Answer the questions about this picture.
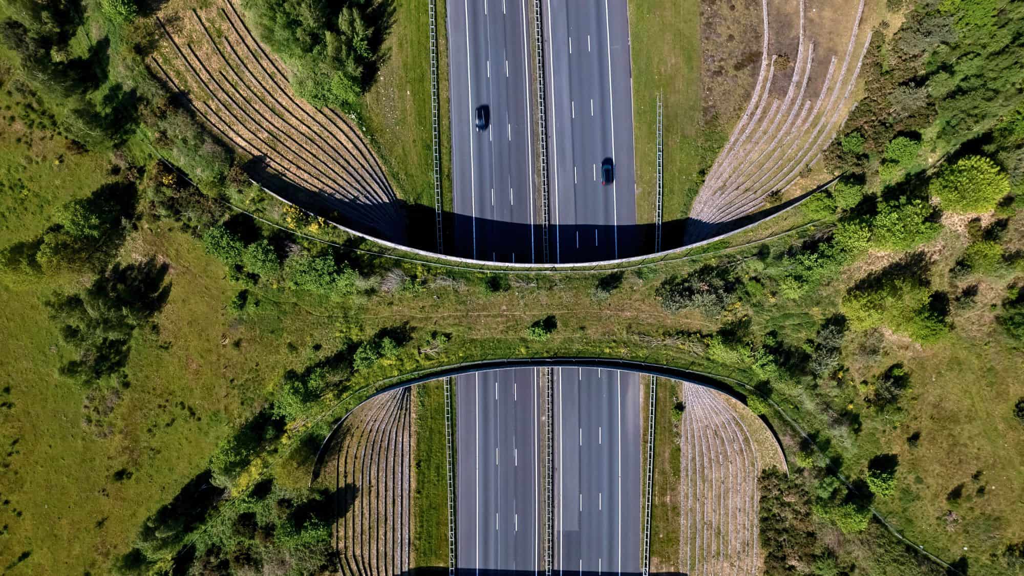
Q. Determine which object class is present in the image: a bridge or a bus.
bridge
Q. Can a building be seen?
No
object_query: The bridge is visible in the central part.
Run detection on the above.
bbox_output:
[249,173,845,487]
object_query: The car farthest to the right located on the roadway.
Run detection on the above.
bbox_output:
[600,161,613,187]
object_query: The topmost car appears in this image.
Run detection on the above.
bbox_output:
[474,105,487,132]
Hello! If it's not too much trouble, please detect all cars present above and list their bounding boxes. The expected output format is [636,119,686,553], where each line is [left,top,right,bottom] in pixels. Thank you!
[600,161,613,187]
[474,105,487,132]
